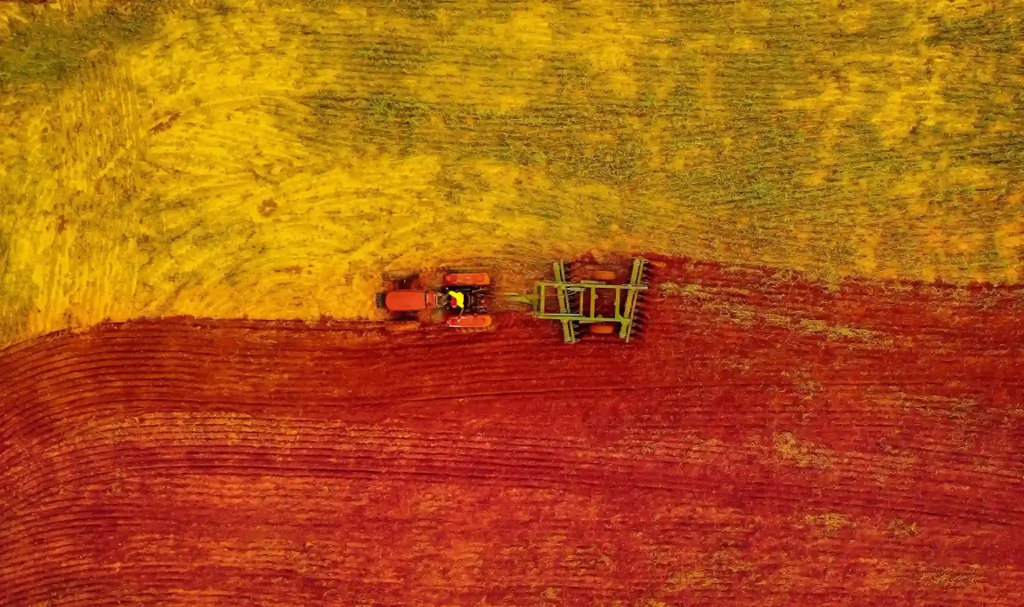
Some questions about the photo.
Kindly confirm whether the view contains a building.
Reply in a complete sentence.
No, this view has no building in it.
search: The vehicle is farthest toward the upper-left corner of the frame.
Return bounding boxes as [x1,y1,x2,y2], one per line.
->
[375,267,501,333]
